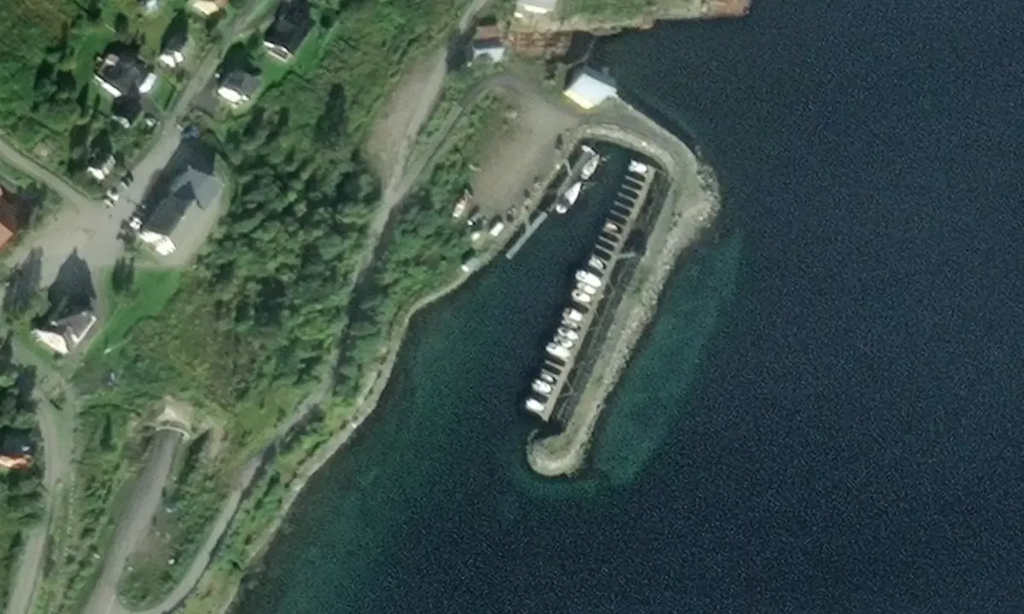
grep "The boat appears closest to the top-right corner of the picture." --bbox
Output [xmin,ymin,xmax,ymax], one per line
[628,159,649,173]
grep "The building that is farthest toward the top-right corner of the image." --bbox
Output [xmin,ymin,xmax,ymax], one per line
[564,65,612,113]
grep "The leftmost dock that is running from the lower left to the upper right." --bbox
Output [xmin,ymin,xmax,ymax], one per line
[507,212,547,259]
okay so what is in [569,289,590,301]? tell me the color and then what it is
white boat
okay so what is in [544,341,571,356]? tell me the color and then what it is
white boat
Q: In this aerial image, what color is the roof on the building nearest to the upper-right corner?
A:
white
